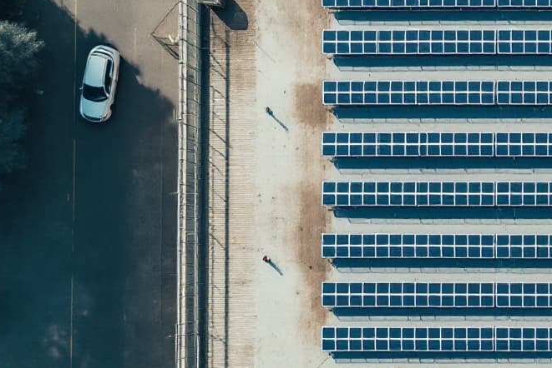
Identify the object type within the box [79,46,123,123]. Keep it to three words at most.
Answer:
car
